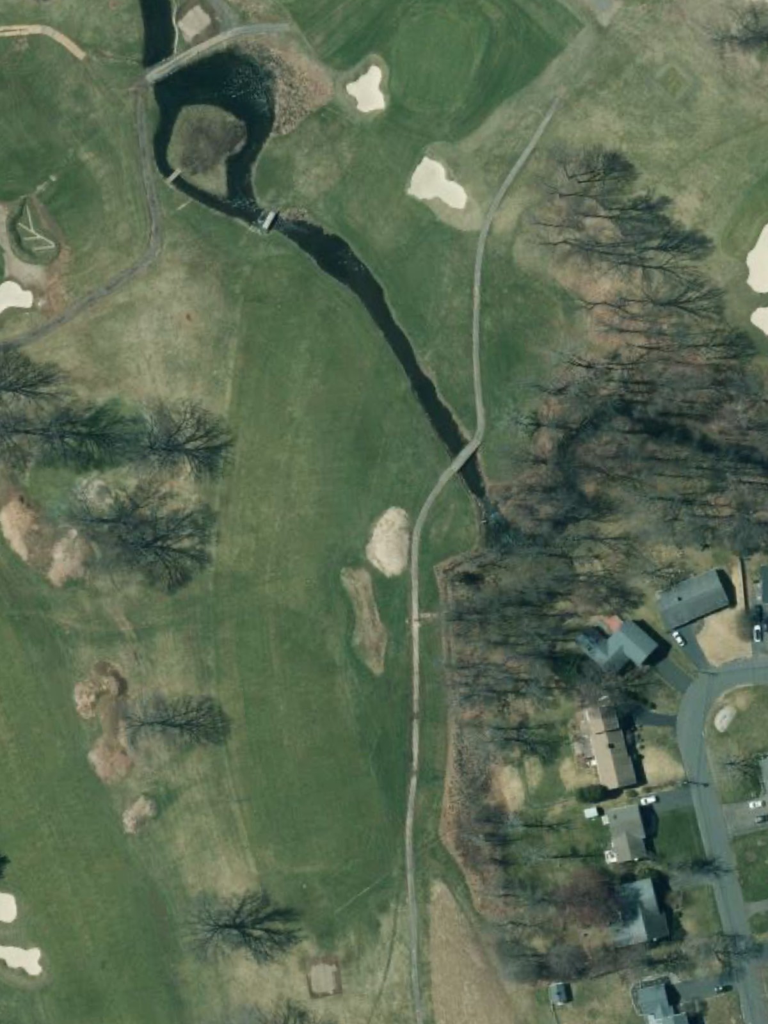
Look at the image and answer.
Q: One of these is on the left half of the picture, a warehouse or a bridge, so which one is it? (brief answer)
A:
bridge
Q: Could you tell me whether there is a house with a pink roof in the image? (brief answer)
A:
No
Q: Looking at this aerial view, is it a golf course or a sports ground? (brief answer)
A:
golf course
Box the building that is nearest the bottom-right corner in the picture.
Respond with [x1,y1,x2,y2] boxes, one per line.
[637,981,689,1024]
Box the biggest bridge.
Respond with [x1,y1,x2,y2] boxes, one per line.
[141,52,186,85]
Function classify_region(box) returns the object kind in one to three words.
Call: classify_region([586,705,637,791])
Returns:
house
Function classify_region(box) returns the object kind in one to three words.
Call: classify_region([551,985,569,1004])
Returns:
shed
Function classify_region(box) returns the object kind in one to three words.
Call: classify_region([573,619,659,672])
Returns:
house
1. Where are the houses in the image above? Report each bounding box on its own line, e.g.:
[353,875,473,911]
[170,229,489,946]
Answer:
[658,569,731,630]
[637,981,689,1024]
[618,879,676,946]
[573,619,659,672]
[586,705,637,791]
[606,805,645,864]
[760,565,768,604]
[758,757,768,800]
